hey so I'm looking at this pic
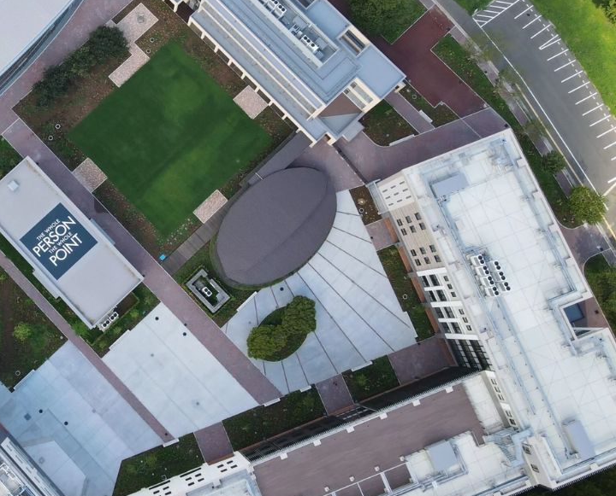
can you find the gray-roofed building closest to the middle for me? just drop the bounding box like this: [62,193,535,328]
[210,167,335,290]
